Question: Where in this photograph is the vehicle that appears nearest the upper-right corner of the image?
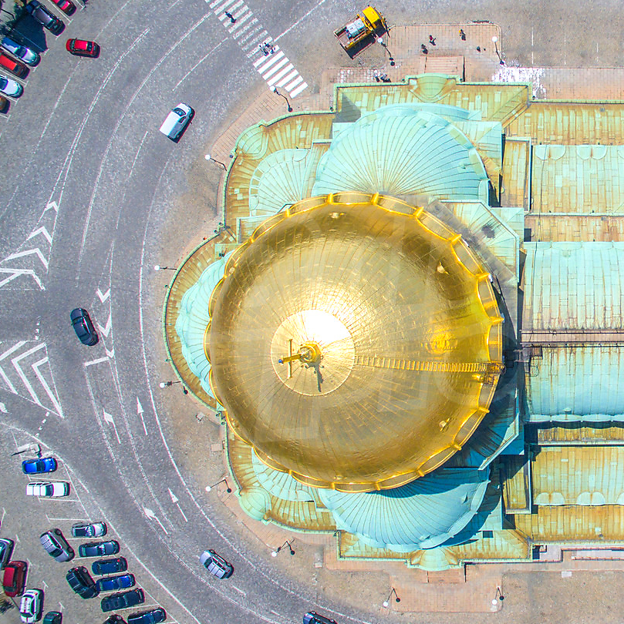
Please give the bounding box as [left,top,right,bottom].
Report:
[335,3,390,53]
